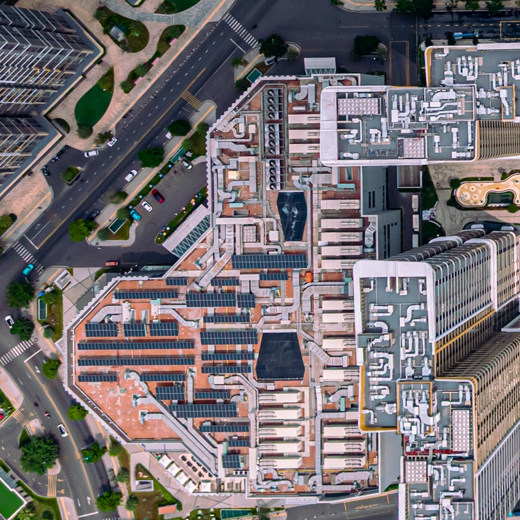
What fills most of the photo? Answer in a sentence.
For the most part, this view shows buildings.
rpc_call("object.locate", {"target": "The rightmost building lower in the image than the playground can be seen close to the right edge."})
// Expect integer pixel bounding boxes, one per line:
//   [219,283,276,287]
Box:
[354,220,520,520]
